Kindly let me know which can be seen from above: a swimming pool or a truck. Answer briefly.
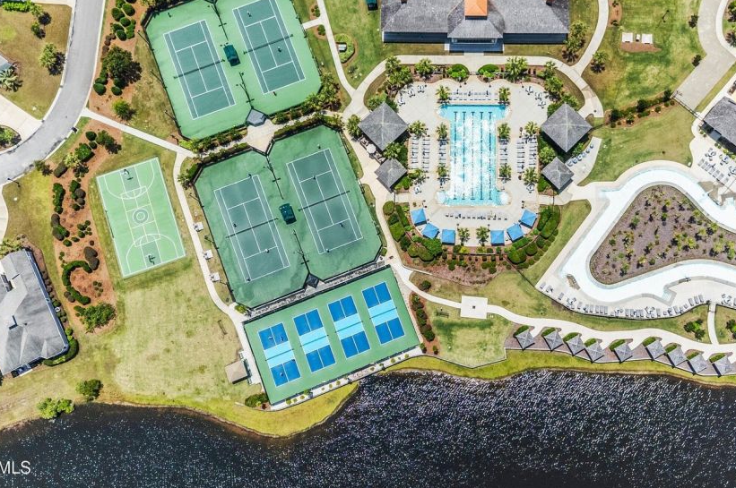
swimming pool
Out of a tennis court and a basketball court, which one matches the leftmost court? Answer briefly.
basketball court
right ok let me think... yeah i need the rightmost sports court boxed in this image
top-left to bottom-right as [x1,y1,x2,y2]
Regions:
[362,282,404,344]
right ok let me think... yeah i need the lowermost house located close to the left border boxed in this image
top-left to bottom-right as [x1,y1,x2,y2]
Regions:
[0,248,70,378]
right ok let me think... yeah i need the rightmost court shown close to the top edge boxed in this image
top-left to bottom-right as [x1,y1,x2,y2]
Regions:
[214,0,319,112]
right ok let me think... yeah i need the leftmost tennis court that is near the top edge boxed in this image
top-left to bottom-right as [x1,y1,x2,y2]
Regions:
[145,0,253,136]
